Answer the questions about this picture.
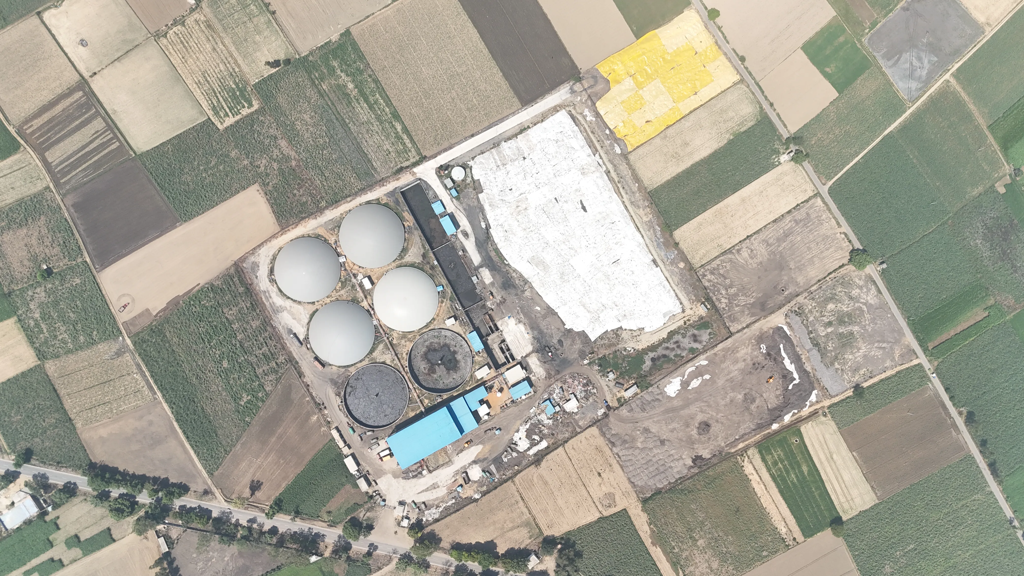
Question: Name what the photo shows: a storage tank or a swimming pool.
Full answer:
The one in the frame is a storage tank.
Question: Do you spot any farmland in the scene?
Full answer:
Yes, the picture does contain farmland.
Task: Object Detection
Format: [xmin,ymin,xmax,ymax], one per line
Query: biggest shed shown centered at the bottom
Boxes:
[387,404,462,469]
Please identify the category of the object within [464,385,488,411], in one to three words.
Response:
shed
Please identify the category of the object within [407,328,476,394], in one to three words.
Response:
storage tank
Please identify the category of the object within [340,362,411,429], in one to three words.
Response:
storage tank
